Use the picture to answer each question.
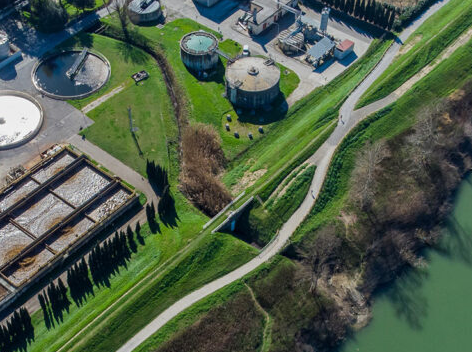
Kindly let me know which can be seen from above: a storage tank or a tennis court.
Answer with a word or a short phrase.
storage tank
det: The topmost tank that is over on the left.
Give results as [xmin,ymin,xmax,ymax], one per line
[127,0,162,29]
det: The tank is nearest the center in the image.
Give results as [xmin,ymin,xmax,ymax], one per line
[224,55,281,114]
